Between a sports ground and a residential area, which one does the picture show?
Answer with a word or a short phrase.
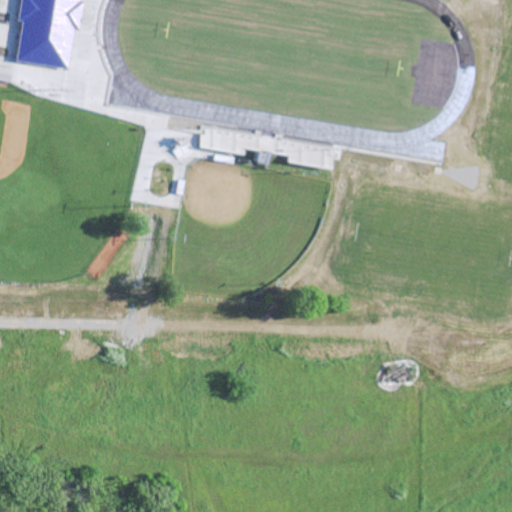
sports ground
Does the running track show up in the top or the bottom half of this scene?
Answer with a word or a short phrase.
top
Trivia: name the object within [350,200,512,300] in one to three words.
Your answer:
soccer field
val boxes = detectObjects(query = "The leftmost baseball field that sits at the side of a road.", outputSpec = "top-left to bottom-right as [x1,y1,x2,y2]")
[0,84,143,283]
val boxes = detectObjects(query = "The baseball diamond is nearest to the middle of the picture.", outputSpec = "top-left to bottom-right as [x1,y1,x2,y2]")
[174,158,331,301]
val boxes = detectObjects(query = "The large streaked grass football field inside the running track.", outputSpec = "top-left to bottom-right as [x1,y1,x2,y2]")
[118,0,456,132]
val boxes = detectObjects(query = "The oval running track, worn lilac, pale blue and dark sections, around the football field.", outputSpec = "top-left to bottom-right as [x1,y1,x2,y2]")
[104,0,474,162]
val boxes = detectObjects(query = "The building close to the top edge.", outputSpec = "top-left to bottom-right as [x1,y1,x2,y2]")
[16,0,82,68]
